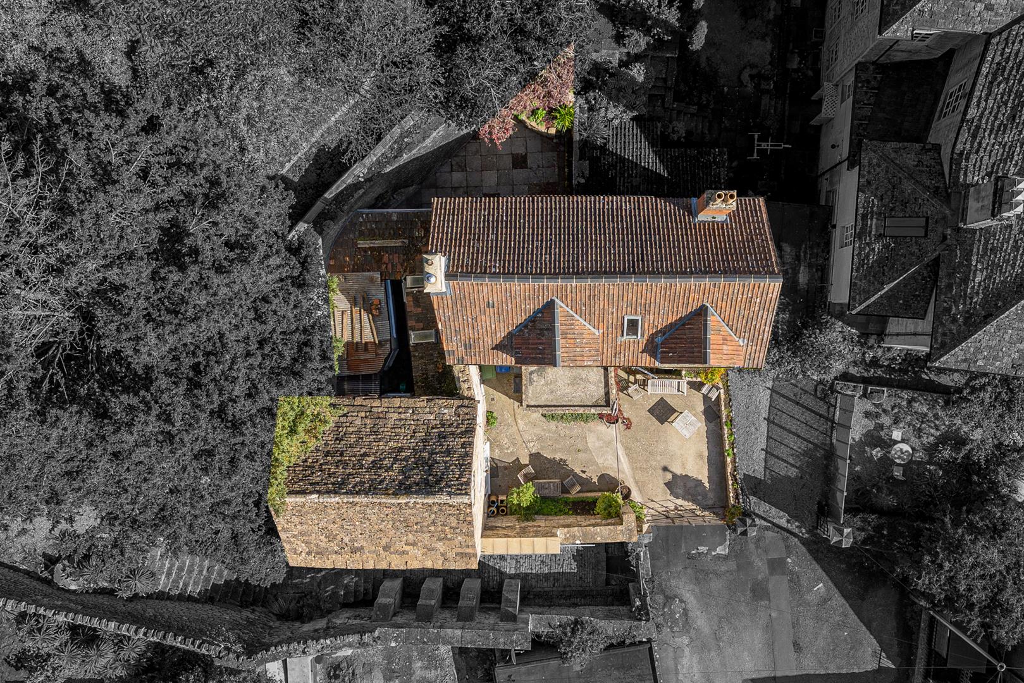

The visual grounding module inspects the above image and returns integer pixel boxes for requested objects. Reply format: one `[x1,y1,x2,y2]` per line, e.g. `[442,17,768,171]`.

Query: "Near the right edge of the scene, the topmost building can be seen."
[812,0,1024,374]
